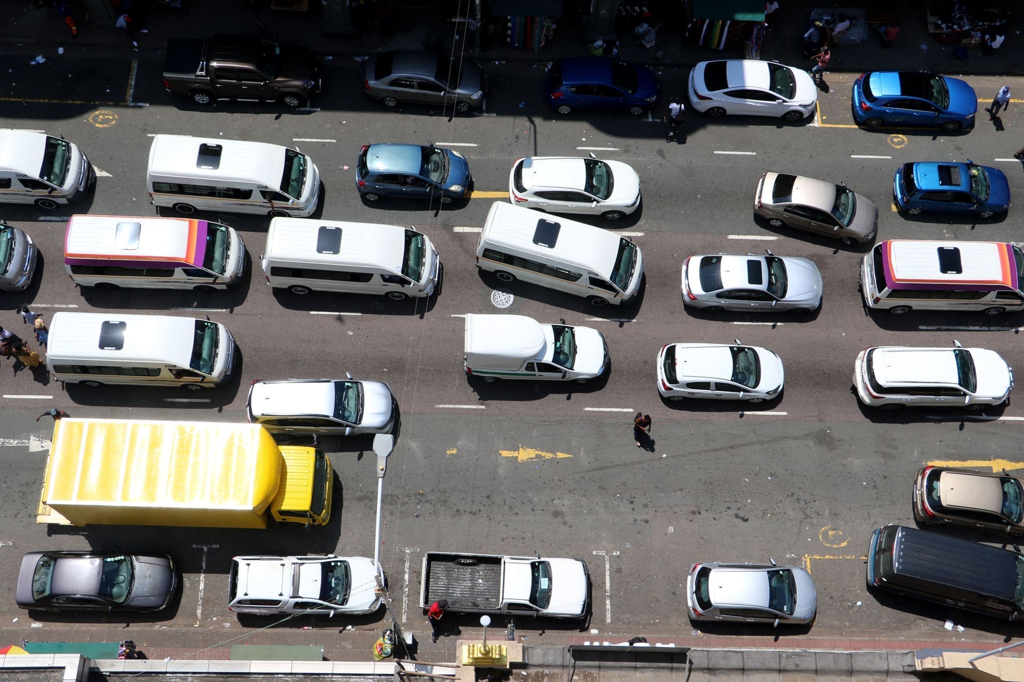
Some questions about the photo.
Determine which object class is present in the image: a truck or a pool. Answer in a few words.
truck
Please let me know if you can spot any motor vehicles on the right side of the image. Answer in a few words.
Yes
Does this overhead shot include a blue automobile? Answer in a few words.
Yes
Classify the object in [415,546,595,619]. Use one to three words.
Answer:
truck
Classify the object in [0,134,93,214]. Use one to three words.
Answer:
vehicle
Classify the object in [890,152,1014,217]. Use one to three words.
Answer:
car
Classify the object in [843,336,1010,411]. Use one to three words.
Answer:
car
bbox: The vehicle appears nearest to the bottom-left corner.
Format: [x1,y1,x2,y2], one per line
[11,542,183,617]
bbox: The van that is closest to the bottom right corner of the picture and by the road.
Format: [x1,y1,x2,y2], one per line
[858,531,1024,629]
